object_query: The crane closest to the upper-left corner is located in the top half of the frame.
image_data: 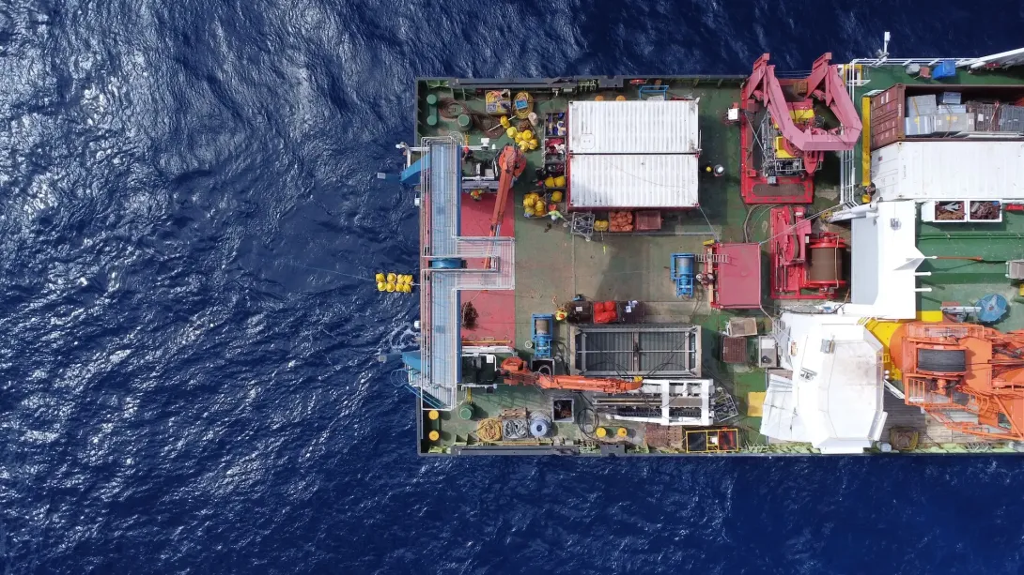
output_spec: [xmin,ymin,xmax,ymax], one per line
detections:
[482,142,526,270]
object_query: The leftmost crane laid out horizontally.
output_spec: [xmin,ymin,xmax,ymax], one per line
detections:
[492,356,644,398]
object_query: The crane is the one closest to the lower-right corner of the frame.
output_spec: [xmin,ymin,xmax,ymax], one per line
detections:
[887,322,1024,442]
